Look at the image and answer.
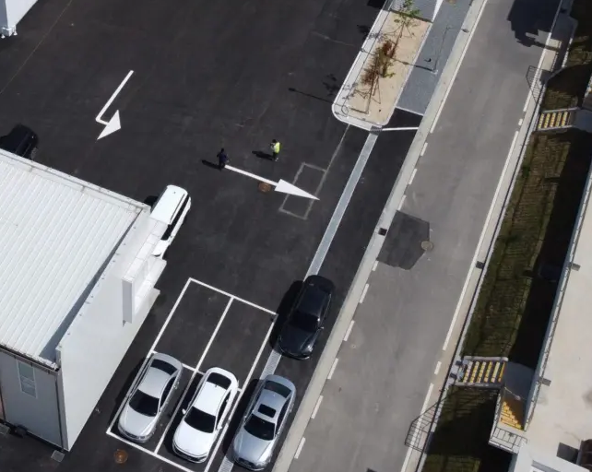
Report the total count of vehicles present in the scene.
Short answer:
6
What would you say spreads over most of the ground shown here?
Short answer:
paved ground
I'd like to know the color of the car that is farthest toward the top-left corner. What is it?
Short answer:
black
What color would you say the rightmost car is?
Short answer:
black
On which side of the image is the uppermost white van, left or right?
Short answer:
left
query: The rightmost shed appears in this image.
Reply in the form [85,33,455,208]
[519,446,574,472]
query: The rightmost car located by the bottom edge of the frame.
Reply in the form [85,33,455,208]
[233,369,298,464]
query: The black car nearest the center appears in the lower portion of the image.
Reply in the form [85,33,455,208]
[276,276,335,359]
